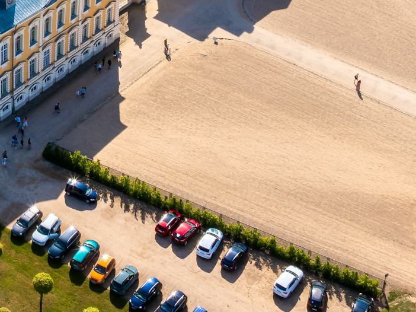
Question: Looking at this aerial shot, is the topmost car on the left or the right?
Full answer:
The topmost car sits on the left side.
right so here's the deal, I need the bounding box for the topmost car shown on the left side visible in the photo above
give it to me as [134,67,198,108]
[63,177,100,205]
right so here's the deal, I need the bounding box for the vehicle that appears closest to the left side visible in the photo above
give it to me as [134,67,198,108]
[11,205,43,238]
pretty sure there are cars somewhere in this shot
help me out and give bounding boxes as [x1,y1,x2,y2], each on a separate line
[158,293,190,312]
[70,243,100,272]
[32,216,60,249]
[171,222,200,249]
[191,300,211,312]
[194,231,224,262]
[270,269,303,303]
[129,279,165,312]
[63,177,100,205]
[306,284,327,312]
[88,256,119,287]
[11,205,43,238]
[220,246,248,275]
[152,211,181,241]
[110,268,140,299]
[49,230,81,262]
